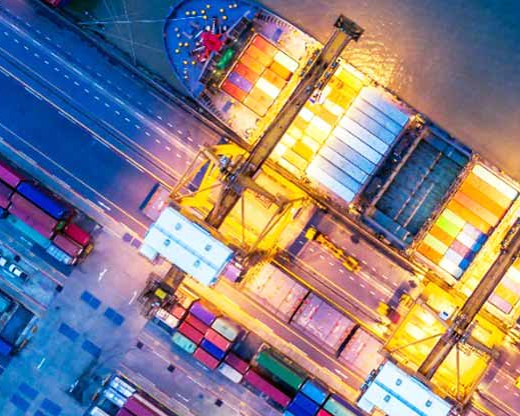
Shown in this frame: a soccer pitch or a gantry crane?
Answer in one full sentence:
The image shows a gantry crane.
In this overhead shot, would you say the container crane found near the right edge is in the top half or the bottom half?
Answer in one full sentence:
It is in the bottom half that the container crane found near the right edge appears.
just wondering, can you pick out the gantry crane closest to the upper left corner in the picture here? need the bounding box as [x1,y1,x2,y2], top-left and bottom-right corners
[127,4,369,328]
